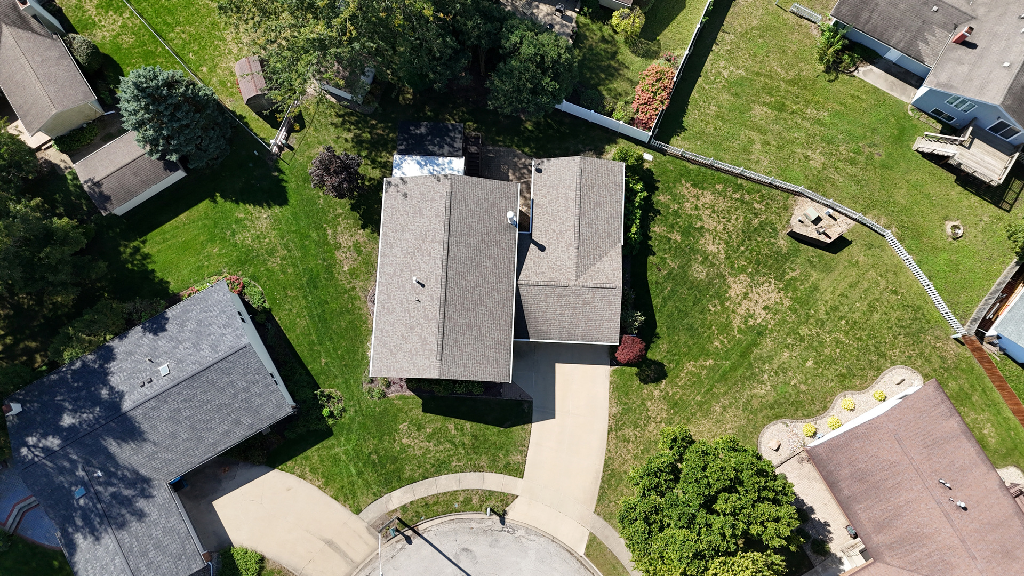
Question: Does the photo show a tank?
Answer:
No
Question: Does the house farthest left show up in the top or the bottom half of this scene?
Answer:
top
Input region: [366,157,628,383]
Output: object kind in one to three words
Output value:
house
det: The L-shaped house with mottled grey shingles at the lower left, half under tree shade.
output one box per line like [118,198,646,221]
[0,277,296,576]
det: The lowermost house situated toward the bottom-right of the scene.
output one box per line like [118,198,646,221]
[799,378,1024,576]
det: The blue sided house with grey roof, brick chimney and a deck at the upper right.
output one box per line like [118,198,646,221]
[829,0,1024,161]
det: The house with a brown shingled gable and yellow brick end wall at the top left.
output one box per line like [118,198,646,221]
[0,0,119,140]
